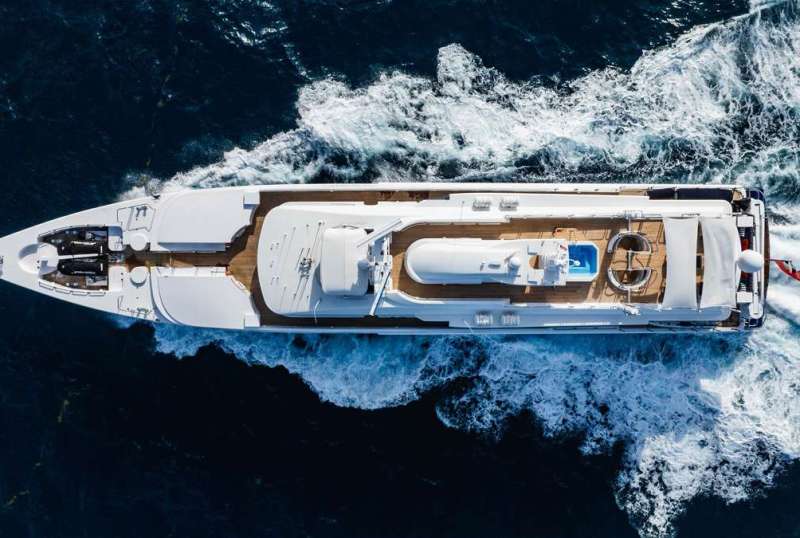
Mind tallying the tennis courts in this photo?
0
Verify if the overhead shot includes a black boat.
Yes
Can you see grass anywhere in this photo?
No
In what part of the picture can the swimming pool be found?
right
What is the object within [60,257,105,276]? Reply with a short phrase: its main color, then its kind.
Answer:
black boat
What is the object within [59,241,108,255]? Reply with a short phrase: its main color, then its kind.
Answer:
black boat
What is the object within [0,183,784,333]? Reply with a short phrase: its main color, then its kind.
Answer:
white boat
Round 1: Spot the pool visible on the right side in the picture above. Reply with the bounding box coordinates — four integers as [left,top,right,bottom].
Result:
[566,238,602,283]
